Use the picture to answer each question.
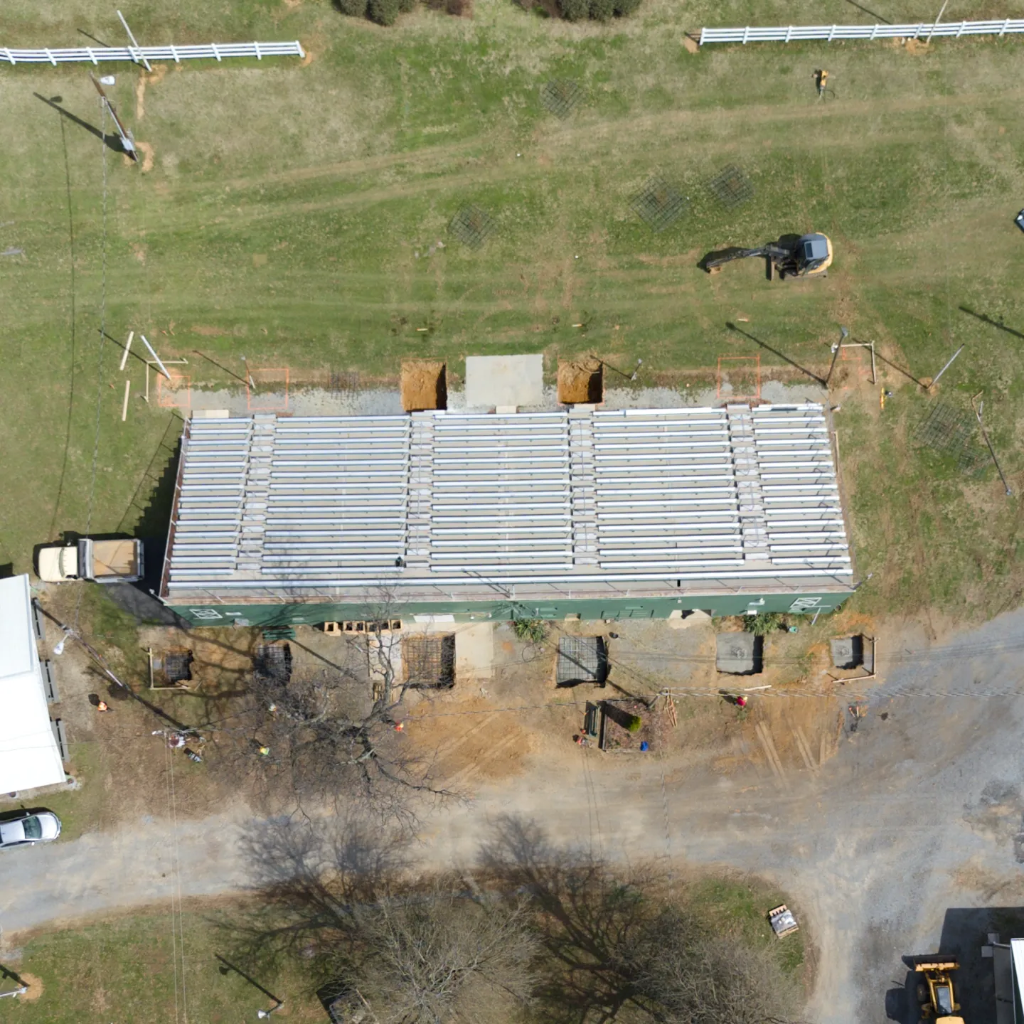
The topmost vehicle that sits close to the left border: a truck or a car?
truck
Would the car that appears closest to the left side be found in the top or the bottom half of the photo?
bottom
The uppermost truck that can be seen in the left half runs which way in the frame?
from side to side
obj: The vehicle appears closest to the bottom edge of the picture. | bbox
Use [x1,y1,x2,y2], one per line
[918,956,967,1024]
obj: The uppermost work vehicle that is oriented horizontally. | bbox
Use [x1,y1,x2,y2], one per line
[707,227,833,278]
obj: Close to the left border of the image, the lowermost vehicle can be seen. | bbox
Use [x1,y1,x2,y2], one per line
[0,809,63,852]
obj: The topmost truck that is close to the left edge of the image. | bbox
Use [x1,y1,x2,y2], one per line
[39,535,147,585]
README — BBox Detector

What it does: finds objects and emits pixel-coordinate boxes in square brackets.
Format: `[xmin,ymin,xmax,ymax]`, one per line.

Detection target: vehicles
[707,227,833,278]
[39,535,147,585]
[918,956,967,1024]
[0,809,63,852]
